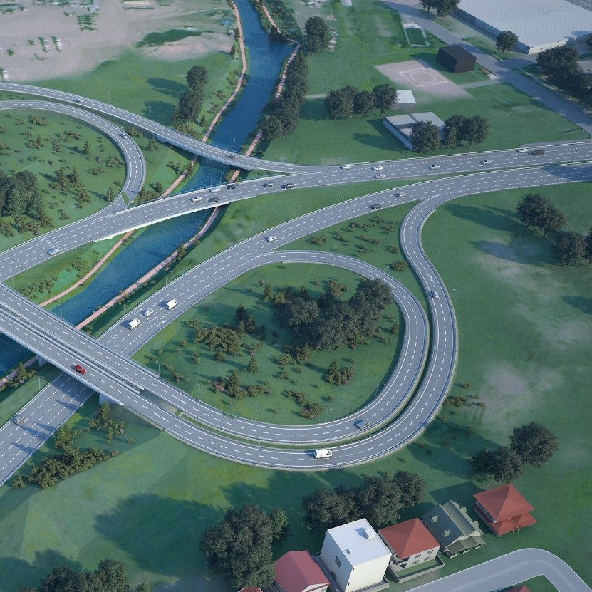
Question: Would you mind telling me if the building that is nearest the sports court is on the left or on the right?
right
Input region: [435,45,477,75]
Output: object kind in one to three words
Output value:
building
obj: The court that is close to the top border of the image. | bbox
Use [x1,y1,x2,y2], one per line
[398,23,433,46]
